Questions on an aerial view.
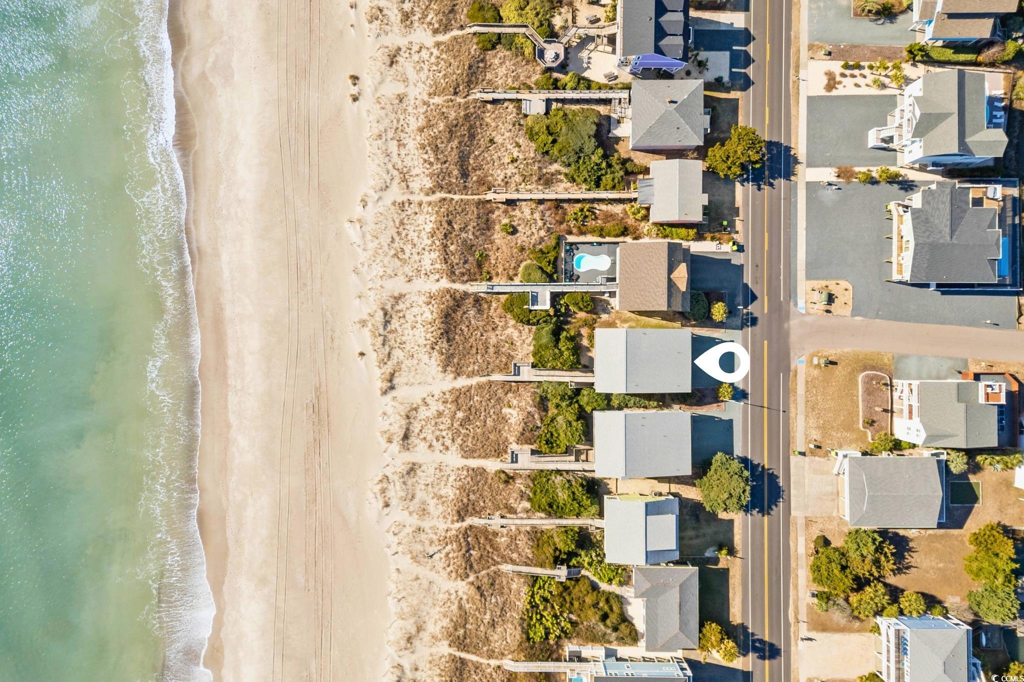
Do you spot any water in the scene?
Yes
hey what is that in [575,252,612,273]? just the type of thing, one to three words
swimming pool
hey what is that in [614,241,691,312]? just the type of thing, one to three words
house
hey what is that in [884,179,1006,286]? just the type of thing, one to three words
house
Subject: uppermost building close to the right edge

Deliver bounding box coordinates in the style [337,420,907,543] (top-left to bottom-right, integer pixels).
[904,0,1019,55]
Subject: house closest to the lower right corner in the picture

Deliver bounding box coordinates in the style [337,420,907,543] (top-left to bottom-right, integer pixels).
[873,610,969,682]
